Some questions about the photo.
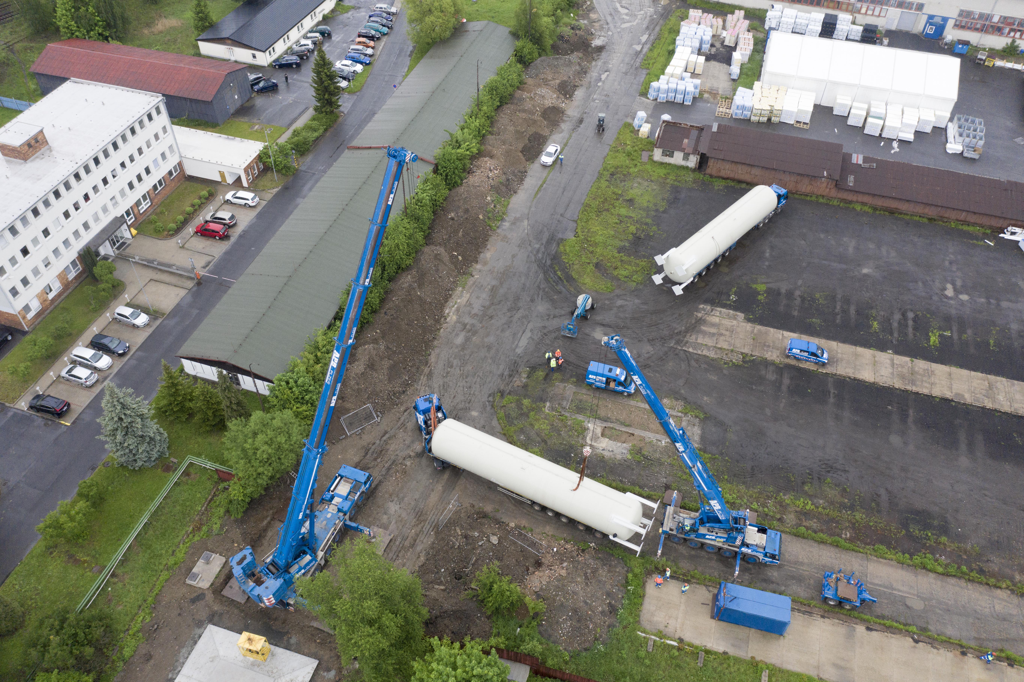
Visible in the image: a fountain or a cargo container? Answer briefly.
cargo container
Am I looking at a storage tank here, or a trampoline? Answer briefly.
storage tank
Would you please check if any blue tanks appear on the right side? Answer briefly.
No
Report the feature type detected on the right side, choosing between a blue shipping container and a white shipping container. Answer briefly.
blue shipping container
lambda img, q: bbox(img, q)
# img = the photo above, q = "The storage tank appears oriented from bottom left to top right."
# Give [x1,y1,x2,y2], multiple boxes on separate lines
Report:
[652,185,775,300]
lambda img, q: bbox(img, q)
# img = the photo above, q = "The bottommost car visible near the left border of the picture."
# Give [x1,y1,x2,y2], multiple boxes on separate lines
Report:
[26,394,73,419]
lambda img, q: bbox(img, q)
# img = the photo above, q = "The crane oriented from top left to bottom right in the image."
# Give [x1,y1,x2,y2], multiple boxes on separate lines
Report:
[583,331,783,584]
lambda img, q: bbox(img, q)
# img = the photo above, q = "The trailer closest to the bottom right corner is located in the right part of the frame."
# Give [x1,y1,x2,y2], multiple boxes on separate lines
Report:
[822,571,879,609]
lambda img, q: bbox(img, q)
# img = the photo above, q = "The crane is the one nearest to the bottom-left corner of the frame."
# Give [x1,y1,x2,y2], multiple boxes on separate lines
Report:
[234,146,450,618]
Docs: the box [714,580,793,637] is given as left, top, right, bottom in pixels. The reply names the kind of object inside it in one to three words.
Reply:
shipping container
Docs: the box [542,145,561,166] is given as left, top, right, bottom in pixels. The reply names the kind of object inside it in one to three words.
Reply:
car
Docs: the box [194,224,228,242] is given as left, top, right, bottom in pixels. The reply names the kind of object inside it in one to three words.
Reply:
car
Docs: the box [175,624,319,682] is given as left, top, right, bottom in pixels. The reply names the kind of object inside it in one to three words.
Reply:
building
